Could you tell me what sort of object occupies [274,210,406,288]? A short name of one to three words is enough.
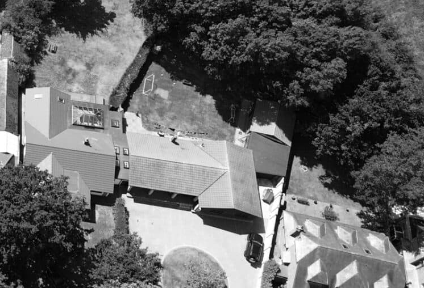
house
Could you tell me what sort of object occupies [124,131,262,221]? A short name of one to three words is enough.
house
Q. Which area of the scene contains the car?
bottom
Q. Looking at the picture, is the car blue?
No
